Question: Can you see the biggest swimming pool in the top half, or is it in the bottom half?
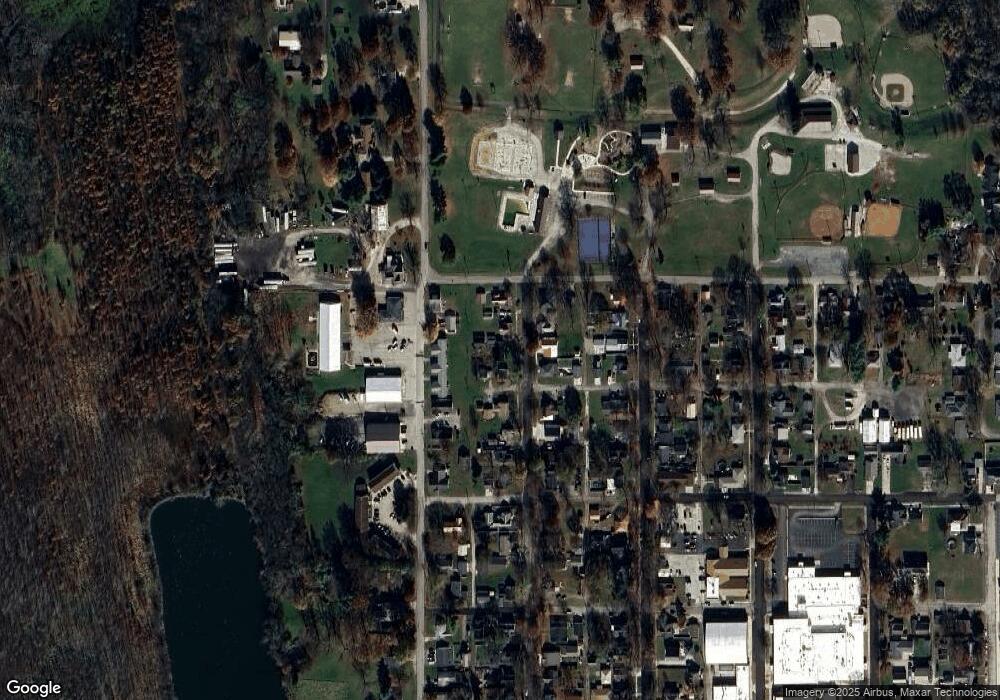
top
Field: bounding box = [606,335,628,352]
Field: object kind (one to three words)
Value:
house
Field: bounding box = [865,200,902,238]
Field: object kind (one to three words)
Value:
baseball field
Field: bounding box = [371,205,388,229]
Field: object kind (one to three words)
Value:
barn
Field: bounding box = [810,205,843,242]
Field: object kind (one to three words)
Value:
baseball field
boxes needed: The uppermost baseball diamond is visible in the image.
[808,14,843,49]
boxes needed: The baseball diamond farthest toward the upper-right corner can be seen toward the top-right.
[880,73,913,110]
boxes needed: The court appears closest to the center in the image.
[578,219,610,263]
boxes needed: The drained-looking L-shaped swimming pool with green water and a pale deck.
[497,191,531,233]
